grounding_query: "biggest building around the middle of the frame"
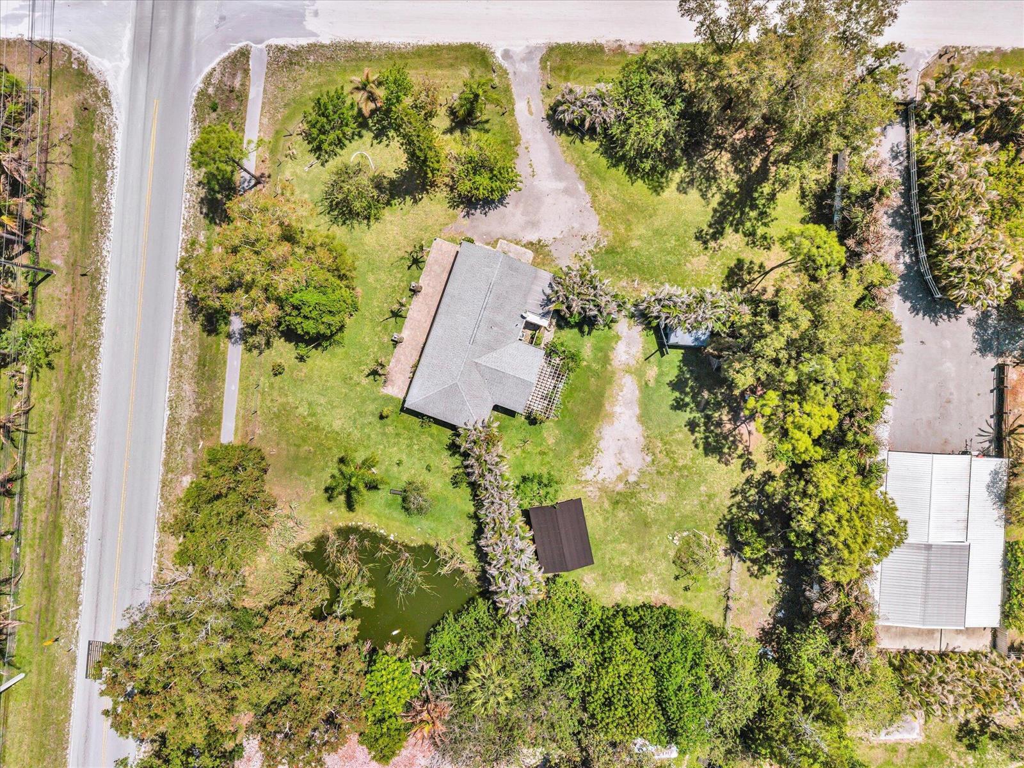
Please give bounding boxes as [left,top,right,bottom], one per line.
[404,242,552,436]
